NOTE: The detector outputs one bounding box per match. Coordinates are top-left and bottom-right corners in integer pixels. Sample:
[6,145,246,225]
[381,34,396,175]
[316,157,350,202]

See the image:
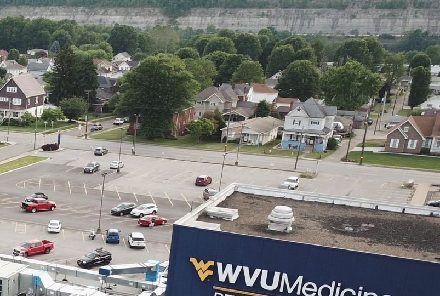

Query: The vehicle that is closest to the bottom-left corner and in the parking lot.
[12,238,53,256]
